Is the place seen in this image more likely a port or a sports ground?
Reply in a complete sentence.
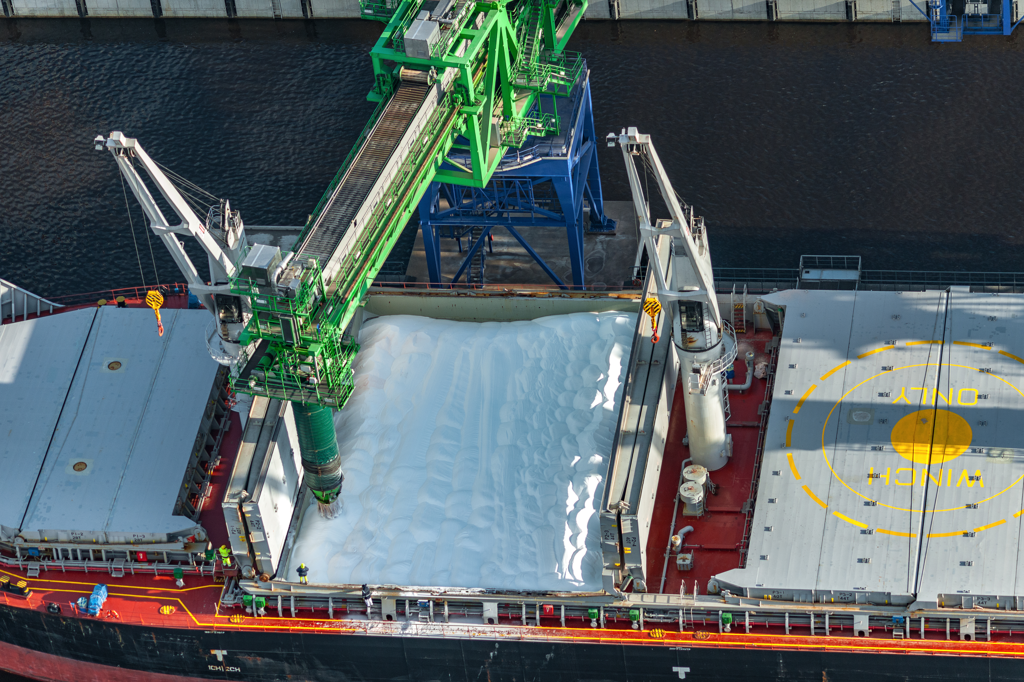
It's a port.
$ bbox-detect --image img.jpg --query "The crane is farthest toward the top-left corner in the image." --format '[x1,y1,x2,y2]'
[89,135,252,455]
